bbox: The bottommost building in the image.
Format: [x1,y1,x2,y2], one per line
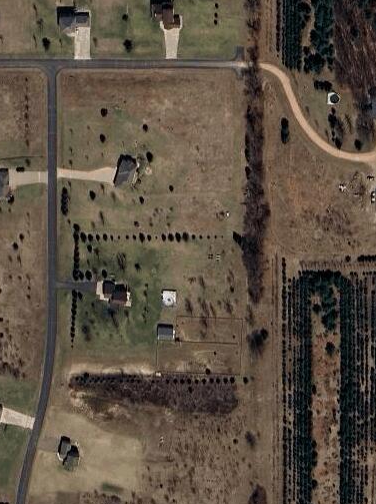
[57,439,82,469]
